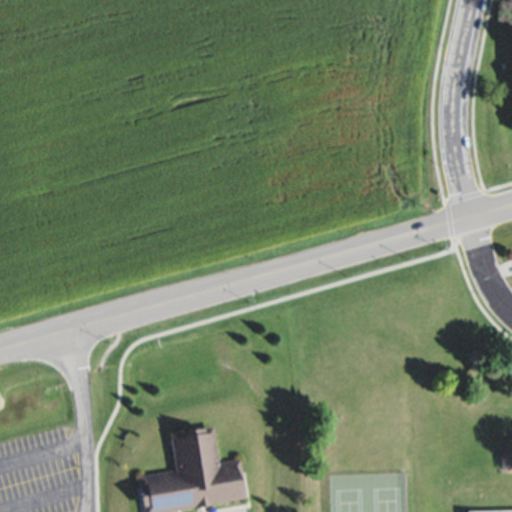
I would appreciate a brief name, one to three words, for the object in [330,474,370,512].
tennis court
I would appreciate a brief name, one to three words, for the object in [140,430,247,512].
building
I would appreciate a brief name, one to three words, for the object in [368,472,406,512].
tennis court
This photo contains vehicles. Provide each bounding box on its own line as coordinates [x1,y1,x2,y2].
[412,222,424,228]
[464,136,470,148]
[475,18,482,30]
[480,0,487,12]
[463,87,470,99]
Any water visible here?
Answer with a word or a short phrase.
No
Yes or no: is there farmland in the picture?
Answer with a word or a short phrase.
Yes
